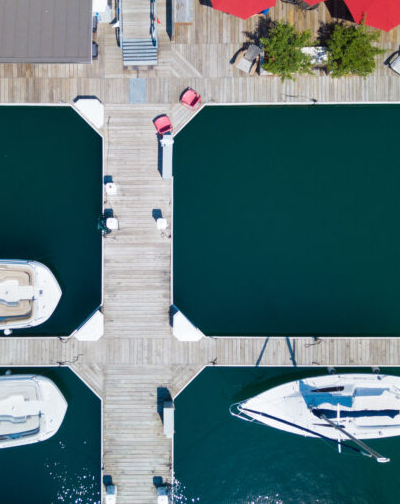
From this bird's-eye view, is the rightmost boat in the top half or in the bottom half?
bottom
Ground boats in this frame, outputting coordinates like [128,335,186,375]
[0,372,67,446]
[229,373,400,463]
[0,258,62,330]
